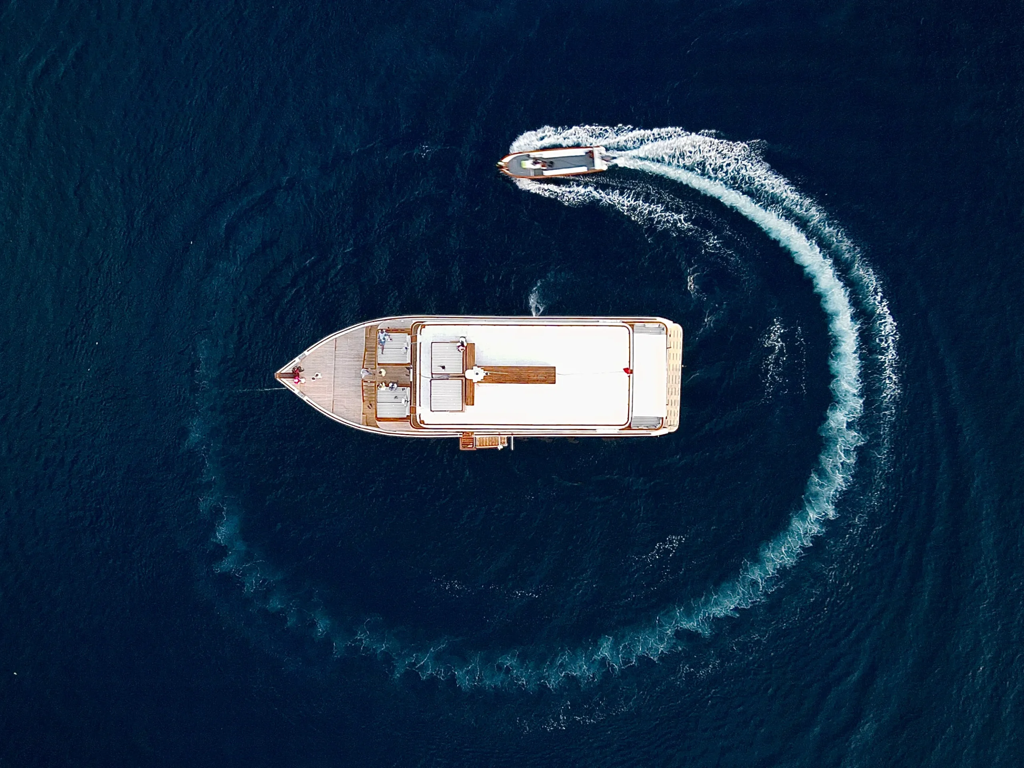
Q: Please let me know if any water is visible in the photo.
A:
Yes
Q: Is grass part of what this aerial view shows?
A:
No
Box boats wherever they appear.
[497,146,615,179]
[275,316,683,450]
